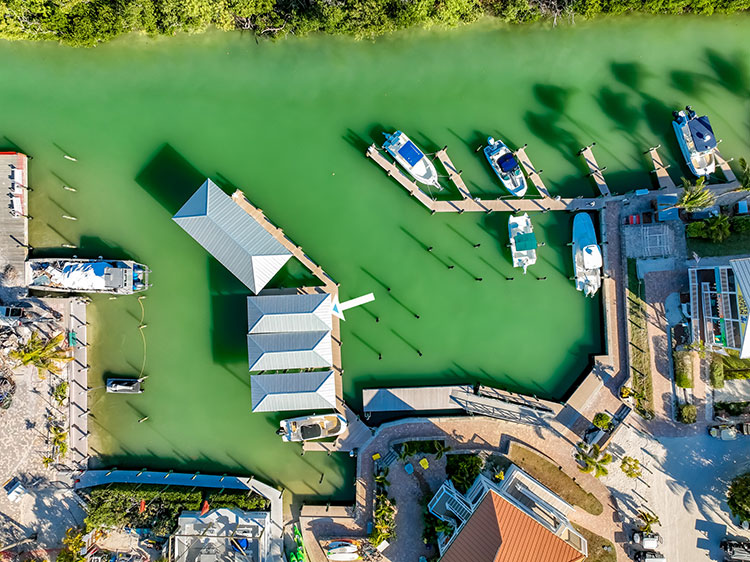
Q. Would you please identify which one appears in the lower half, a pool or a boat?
boat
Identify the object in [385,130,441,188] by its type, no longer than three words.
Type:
boat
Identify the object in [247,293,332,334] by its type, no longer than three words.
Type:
building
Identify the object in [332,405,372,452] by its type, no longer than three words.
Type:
pier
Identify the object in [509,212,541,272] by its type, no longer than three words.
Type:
boat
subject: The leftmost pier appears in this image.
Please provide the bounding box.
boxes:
[0,151,40,297]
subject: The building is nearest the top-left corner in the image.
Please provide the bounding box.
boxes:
[171,178,292,295]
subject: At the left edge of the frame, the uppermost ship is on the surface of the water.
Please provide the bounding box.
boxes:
[29,256,152,294]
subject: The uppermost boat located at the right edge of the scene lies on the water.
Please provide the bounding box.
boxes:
[669,106,722,180]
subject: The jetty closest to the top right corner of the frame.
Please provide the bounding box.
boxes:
[711,139,738,182]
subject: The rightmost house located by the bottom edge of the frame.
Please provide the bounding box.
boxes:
[426,458,593,562]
